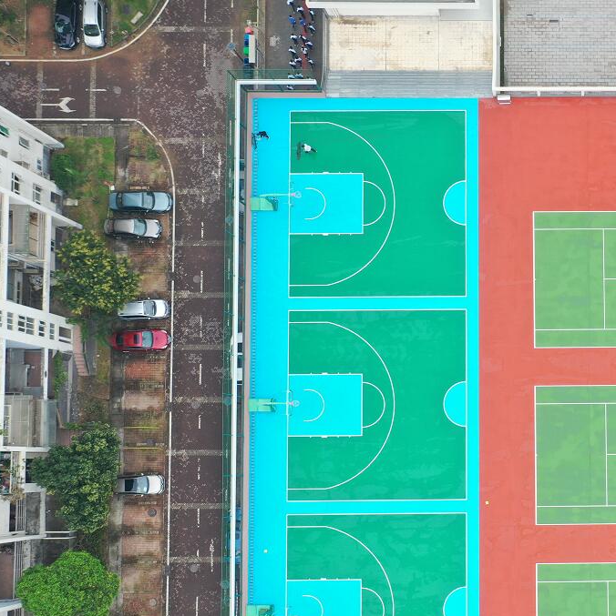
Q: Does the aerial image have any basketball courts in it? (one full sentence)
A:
Yes, a basketball court can be made out from above.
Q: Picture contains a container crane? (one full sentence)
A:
No, I find no container crane anywhere in the image.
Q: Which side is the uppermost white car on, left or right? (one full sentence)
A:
The uppermost white car sits on the left side.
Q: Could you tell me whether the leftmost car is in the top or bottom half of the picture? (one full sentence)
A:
It is in the top half that the leftmost car appears.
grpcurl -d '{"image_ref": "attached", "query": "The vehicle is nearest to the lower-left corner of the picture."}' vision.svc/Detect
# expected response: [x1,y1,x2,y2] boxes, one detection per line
[109,473,167,499]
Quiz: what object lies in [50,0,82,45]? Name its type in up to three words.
car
